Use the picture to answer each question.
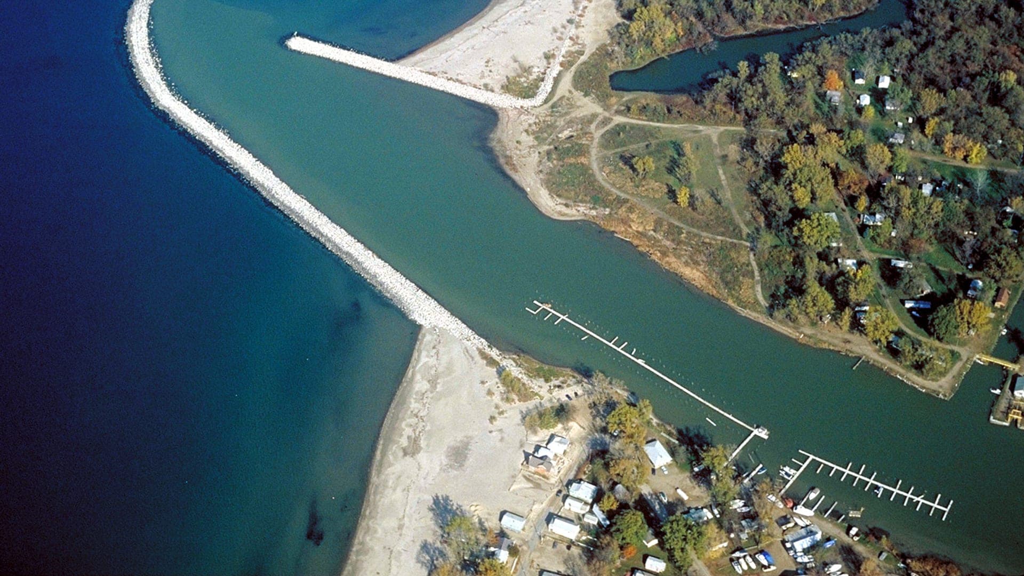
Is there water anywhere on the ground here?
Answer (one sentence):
Yes, some water is visible.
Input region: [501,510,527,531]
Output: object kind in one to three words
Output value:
house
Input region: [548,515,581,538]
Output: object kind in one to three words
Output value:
house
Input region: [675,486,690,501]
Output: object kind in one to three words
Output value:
vehicle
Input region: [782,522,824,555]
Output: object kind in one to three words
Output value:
shed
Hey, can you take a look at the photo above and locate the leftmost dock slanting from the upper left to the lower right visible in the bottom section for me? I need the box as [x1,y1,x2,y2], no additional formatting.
[526,300,768,463]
